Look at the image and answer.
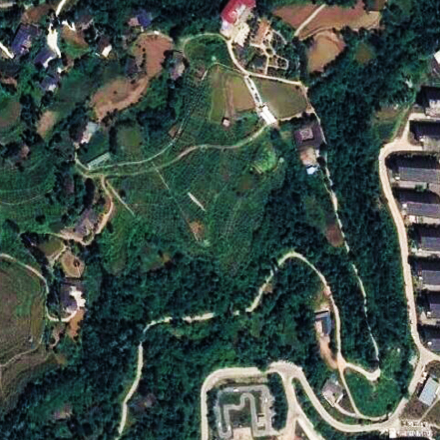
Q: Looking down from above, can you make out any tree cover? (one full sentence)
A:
Yes, there is tree cover in the image.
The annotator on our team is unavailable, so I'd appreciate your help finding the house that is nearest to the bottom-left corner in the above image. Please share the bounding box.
[61,284,78,312]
